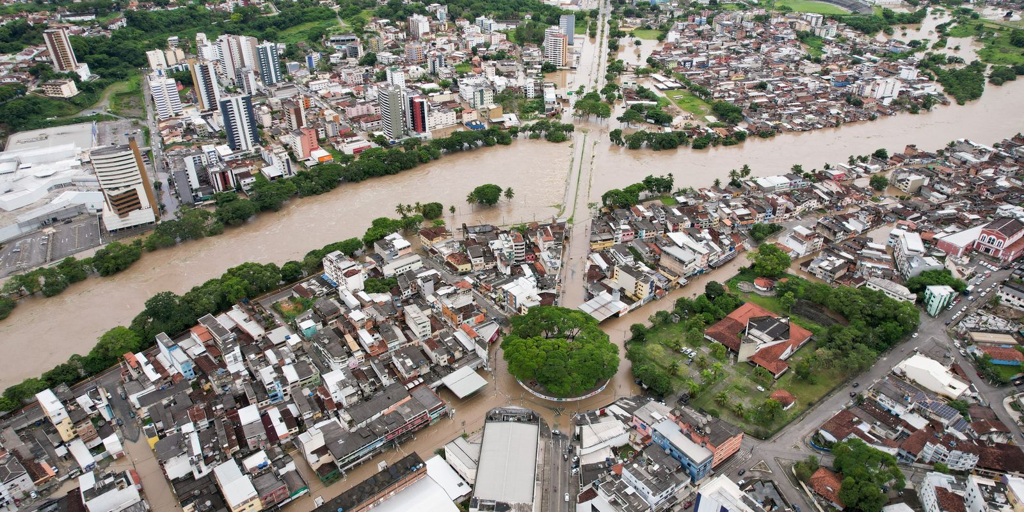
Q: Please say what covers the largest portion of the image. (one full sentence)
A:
For the most part, this view shows buildings.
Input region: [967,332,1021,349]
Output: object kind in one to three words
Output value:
building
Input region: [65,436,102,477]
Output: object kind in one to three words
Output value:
house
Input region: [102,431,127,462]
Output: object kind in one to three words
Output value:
house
